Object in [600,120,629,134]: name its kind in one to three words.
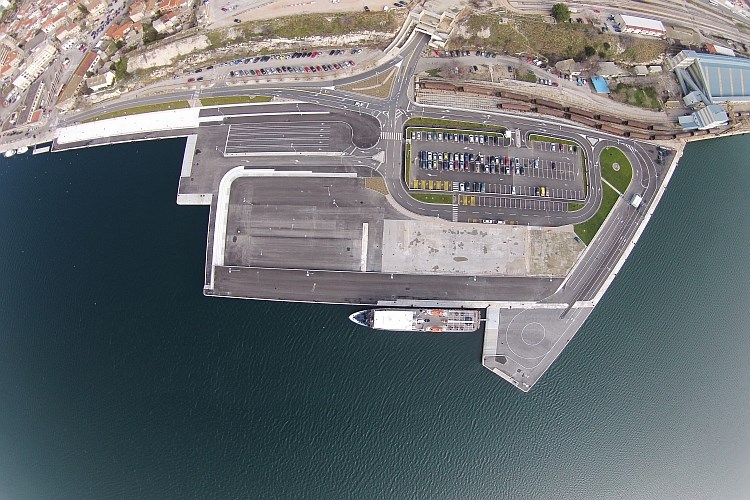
rail car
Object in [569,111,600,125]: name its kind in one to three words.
rail car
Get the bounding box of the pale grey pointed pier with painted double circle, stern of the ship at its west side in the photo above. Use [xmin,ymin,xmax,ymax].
[483,288,593,391]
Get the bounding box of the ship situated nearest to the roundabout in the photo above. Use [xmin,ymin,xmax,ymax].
[349,307,482,332]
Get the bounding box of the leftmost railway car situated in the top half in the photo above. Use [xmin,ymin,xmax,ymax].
[423,78,458,91]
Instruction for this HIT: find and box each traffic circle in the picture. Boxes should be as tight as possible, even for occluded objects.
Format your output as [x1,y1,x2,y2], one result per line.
[574,146,634,244]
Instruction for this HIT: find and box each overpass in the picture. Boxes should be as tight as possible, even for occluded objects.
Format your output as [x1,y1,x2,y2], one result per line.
[384,9,455,61]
